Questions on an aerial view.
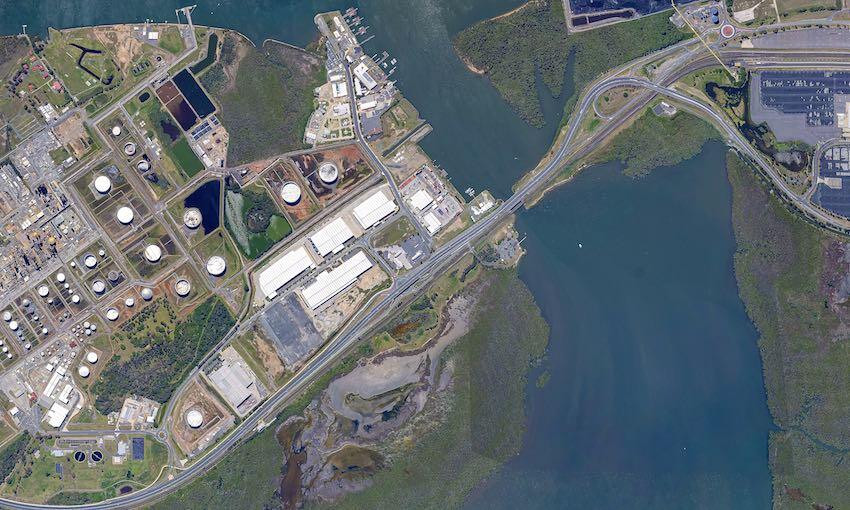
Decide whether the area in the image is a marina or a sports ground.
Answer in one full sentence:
This image shows a marina.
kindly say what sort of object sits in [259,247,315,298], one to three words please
building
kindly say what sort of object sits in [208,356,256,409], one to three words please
building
